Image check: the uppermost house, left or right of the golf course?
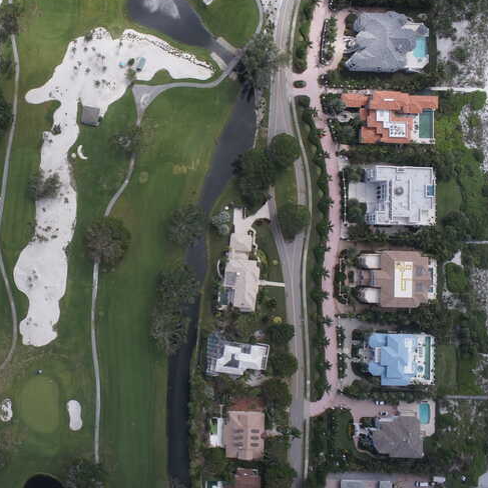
to the right of it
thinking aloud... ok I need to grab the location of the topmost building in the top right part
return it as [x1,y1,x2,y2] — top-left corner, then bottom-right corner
[341,10,430,73]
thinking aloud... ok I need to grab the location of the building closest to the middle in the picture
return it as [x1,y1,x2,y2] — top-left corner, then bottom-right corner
[219,232,259,313]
